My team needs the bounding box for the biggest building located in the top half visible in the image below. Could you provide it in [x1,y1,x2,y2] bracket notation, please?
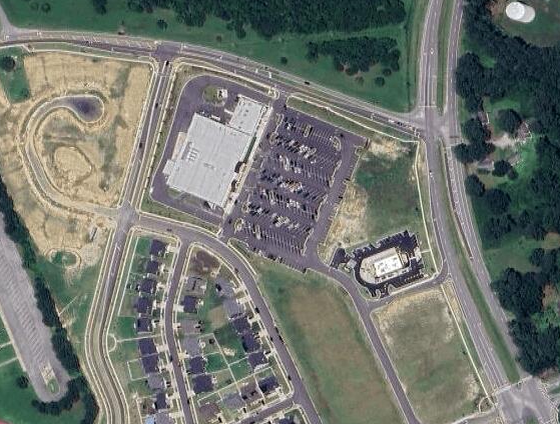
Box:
[163,96,270,209]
